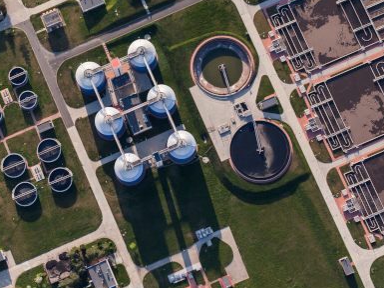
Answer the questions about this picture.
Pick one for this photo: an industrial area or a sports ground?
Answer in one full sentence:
This looks like an industrial area.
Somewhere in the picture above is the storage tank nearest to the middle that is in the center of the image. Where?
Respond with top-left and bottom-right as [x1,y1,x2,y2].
[166,130,198,163]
